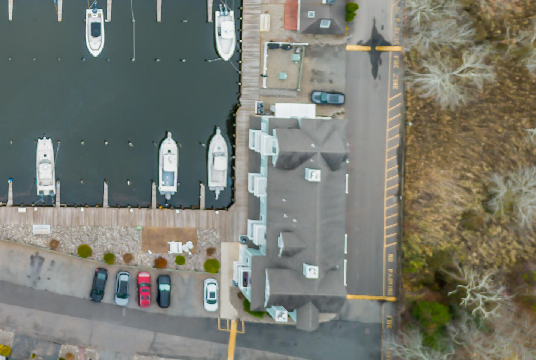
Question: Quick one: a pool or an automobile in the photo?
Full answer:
It is an automobile that can be seen here.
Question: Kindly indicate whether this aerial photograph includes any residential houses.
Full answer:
Yes, this view includes a residential house.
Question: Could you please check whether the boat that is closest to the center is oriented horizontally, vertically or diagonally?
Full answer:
I'd say the boat that is closest to the center is aligned vertically in the picture.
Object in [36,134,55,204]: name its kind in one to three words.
boat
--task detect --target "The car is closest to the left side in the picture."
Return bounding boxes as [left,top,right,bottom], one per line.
[90,268,108,303]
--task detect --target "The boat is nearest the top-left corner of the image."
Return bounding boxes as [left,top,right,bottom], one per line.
[86,2,104,57]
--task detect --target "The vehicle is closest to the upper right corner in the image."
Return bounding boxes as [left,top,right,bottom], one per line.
[311,90,346,105]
